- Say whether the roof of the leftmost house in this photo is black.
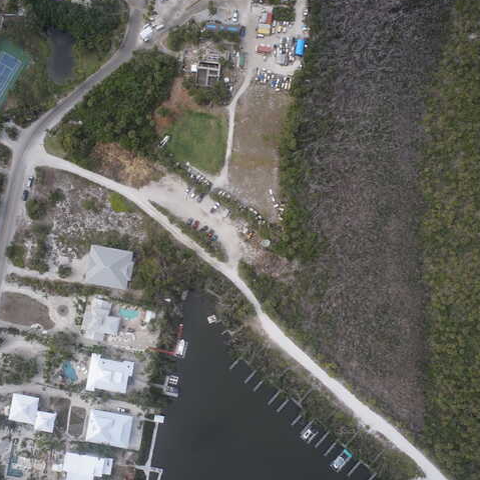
No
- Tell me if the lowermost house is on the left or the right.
left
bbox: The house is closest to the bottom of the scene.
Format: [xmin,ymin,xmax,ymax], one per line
[52,452,113,480]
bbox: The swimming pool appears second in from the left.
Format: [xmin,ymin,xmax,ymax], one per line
[62,359,77,382]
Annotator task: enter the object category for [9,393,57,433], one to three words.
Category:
house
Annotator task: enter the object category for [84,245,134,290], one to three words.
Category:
house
